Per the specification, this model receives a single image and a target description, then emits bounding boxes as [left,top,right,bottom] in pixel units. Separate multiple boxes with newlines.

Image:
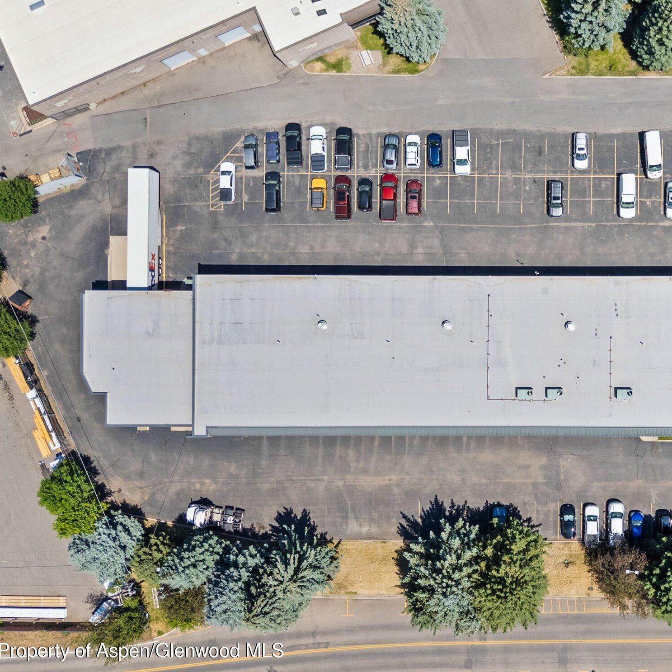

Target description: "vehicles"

[262,173,282,213]
[606,500,627,547]
[452,130,472,176]
[310,179,328,211]
[547,180,565,219]
[241,136,261,172]
[263,132,282,164]
[559,503,577,539]
[404,136,422,169]
[425,133,444,168]
[334,127,354,173]
[356,179,374,212]
[645,130,665,180]
[381,135,400,170]
[664,182,672,220]
[284,124,304,169]
[217,162,237,205]
[572,133,590,170]
[583,504,602,548]
[332,176,353,222]
[618,174,637,219]
[187,504,248,529]
[379,174,398,223]
[307,126,328,173]
[628,510,646,542]
[405,180,423,217]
